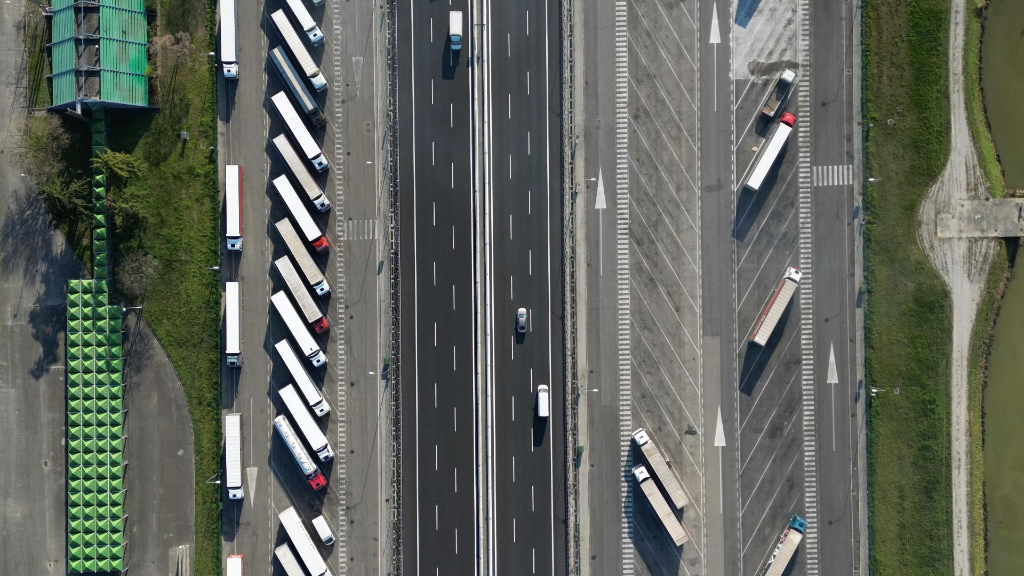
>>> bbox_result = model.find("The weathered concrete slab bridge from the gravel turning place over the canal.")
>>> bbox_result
[937,198,1024,238]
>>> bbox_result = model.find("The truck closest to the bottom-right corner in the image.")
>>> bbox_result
[760,512,810,576]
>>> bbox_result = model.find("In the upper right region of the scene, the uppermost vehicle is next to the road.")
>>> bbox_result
[760,70,796,118]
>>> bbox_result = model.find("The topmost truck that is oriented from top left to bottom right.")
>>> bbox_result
[286,0,326,48]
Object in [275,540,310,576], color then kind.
white truck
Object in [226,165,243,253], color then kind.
white vehicle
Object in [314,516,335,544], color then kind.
white vehicle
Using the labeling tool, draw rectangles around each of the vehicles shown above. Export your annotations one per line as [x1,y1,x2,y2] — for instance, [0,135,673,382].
[516,308,527,332]
[275,255,332,336]
[744,110,799,193]
[313,0,325,6]
[226,414,244,502]
[272,92,332,174]
[226,165,243,253]
[275,540,310,576]
[273,175,332,256]
[270,46,329,129]
[276,414,330,492]
[751,265,805,345]
[760,512,810,576]
[226,282,243,369]
[273,134,333,215]
[630,462,688,545]
[279,383,338,463]
[275,217,333,299]
[632,426,689,509]
[286,0,326,48]
[536,384,549,417]
[450,12,463,50]
[280,506,338,576]
[314,516,335,544]
[227,554,245,576]
[220,0,239,81]
[760,70,796,118]
[274,337,333,418]
[270,289,330,370]
[271,9,330,93]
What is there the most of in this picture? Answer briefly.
paved ground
